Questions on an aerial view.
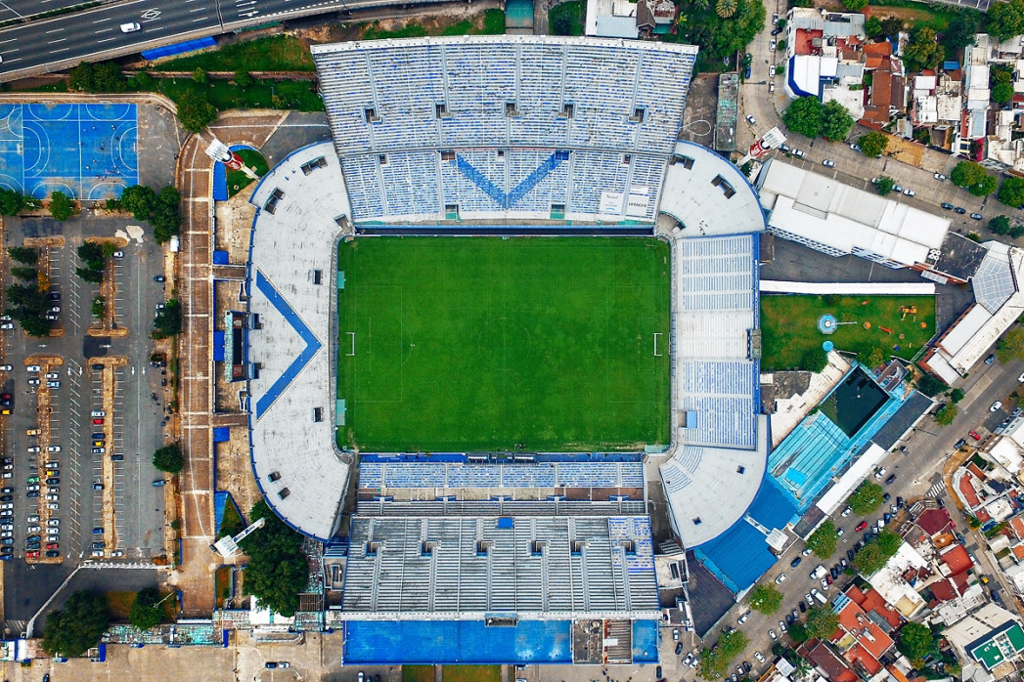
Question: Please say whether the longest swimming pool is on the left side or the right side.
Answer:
right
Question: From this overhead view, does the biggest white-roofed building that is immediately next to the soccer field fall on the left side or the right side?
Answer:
right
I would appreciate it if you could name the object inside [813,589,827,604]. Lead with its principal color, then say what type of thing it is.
white vehicle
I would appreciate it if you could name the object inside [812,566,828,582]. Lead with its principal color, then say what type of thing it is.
white vehicle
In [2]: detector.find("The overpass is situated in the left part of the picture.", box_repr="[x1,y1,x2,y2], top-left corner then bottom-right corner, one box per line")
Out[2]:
[0,0,418,82]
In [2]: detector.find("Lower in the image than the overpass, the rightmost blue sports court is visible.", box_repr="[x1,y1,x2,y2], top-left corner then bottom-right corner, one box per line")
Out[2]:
[22,103,139,199]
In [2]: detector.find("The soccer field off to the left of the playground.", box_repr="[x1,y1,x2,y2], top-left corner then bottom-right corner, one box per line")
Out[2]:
[337,237,671,454]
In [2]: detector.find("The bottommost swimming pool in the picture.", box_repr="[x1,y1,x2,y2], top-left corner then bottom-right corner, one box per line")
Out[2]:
[768,362,916,510]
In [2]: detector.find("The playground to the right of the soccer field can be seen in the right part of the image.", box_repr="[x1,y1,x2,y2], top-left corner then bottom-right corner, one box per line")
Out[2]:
[765,294,936,375]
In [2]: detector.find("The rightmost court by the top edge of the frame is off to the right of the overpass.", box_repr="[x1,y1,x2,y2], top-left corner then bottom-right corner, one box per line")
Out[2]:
[505,0,534,36]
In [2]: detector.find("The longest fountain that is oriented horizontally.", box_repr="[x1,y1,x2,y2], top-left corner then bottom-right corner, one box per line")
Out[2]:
[819,314,859,333]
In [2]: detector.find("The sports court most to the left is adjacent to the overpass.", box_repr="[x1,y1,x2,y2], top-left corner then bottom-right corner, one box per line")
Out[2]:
[0,103,22,197]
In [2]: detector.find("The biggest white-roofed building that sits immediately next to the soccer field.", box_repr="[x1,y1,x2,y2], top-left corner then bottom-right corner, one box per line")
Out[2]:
[755,159,951,268]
